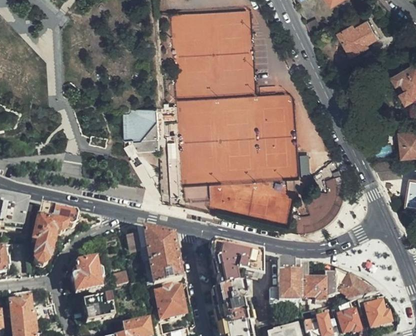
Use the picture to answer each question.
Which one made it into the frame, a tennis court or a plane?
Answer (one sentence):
This aerial view contains a tennis court.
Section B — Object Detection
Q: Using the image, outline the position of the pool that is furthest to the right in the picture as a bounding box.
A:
[376,144,394,159]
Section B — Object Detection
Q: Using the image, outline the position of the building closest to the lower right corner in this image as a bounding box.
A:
[364,298,396,332]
